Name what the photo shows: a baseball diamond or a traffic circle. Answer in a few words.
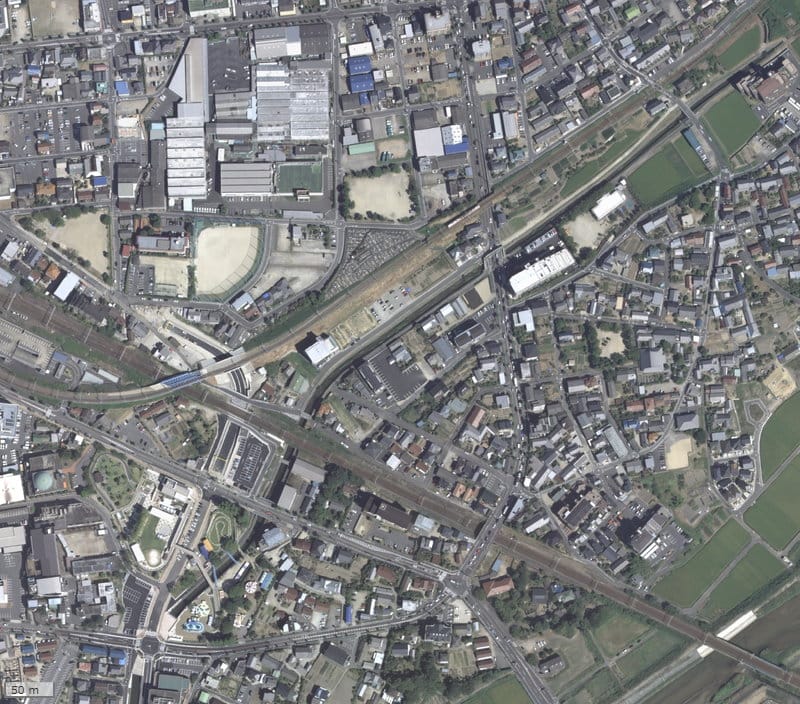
baseball diamond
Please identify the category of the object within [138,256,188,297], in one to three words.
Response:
sports field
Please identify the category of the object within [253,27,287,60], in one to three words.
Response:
building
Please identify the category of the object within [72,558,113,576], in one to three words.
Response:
building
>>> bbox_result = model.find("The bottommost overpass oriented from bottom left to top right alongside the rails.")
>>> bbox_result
[452,492,516,582]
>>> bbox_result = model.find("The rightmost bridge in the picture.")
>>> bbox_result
[705,630,800,690]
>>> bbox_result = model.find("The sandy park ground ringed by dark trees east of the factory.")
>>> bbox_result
[352,173,410,218]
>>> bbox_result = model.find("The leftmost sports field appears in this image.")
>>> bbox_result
[40,212,109,282]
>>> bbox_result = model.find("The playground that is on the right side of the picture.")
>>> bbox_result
[598,331,625,357]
